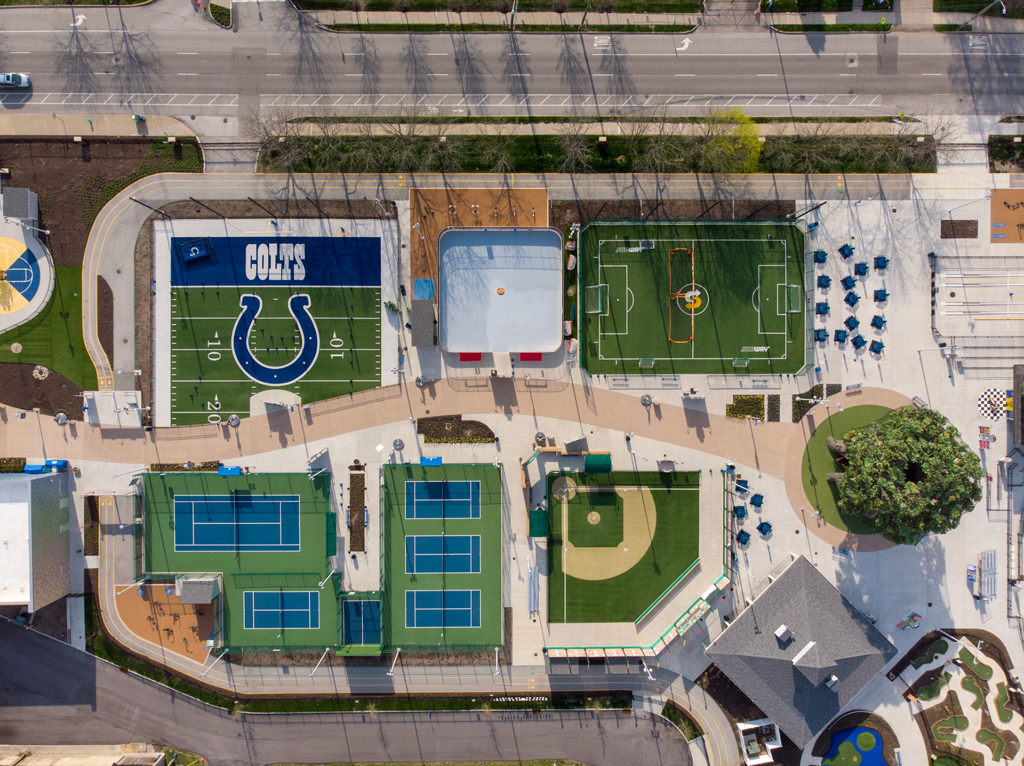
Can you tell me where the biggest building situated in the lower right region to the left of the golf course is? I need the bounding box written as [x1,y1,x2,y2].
[701,554,899,750]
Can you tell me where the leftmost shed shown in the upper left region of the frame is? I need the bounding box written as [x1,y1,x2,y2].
[0,188,37,220]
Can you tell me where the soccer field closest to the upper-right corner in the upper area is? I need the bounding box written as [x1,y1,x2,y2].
[579,222,806,377]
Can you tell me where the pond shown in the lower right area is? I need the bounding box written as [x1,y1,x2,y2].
[812,710,902,766]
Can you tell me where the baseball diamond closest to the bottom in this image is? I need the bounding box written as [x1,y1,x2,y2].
[549,472,699,623]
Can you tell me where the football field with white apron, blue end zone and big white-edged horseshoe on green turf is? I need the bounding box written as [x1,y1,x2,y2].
[153,219,398,428]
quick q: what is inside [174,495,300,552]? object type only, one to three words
tennis court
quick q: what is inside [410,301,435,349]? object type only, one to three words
shed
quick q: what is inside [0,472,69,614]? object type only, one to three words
building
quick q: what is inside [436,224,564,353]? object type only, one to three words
sports court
